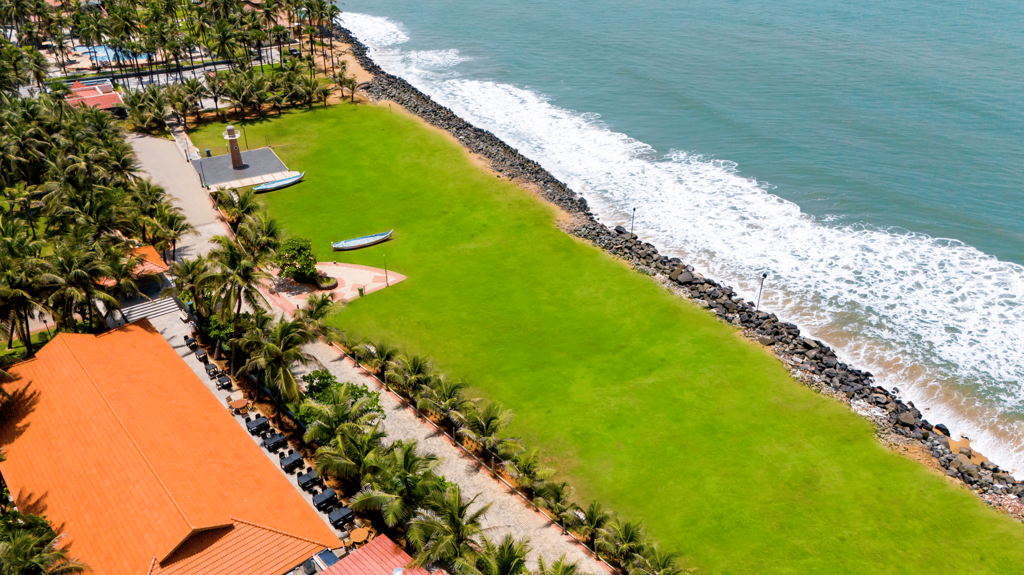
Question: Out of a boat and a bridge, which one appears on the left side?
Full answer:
It is a boat that can be seen on the left side.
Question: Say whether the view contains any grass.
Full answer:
Yes, some grass is visible.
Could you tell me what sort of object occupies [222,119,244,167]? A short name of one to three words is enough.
lighthouse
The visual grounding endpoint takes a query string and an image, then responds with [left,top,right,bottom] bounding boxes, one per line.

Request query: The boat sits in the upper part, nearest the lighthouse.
[253,170,303,190]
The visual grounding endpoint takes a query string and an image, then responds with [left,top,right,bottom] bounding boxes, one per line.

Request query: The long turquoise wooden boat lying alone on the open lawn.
[332,227,392,249]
